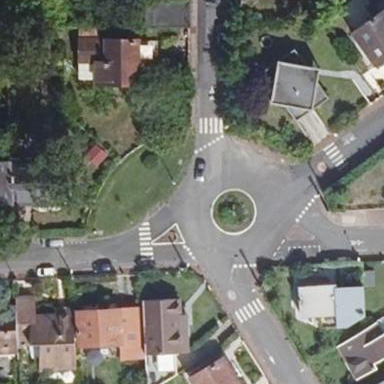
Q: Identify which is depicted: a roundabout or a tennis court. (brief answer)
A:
roundabout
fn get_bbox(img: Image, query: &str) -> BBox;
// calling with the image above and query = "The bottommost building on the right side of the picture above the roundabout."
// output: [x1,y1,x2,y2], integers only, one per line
[273,61,328,119]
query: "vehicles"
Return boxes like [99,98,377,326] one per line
[92,262,114,272]
[41,238,63,248]
[194,158,206,180]
[36,266,56,276]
